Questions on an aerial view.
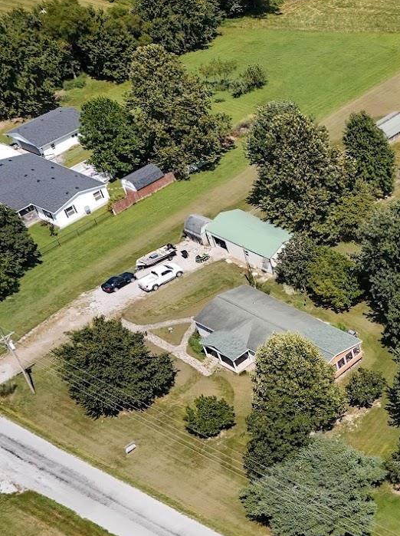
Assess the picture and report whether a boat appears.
Yes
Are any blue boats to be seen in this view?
No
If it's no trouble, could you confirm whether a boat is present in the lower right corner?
No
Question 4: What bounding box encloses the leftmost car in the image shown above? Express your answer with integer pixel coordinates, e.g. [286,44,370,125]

[96,269,138,294]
